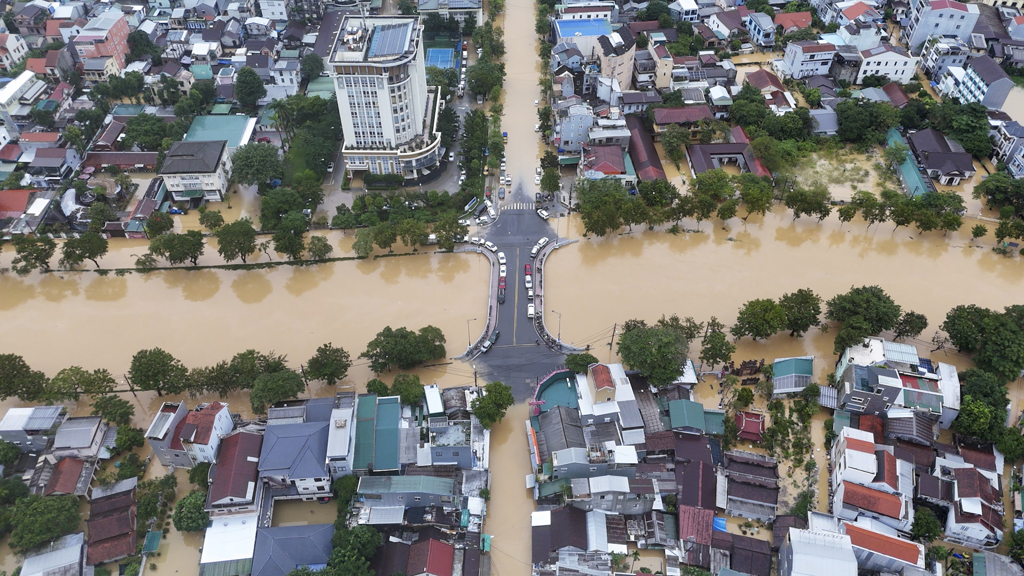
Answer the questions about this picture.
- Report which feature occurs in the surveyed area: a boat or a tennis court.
tennis court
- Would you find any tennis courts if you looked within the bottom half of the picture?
No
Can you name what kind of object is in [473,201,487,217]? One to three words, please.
vehicle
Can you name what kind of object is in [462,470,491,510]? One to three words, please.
house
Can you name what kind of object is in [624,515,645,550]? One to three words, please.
shed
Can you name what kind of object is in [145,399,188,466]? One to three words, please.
house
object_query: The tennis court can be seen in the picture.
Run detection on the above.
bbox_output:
[429,29,464,79]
